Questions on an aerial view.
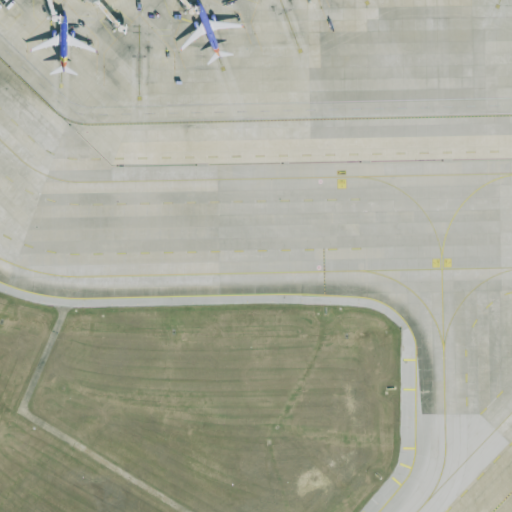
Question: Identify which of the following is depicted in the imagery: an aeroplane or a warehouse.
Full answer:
Of the two, only an aeroplane appears.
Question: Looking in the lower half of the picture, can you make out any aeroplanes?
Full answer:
No, there is no aeroplane in the lower half of the picture.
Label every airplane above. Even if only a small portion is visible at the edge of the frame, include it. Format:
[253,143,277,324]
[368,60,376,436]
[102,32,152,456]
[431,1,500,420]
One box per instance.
[181,0,244,64]
[30,10,96,74]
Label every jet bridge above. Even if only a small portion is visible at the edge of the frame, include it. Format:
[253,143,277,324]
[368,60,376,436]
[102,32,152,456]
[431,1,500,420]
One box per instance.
[179,0,198,15]
[45,0,62,22]
[94,0,126,32]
